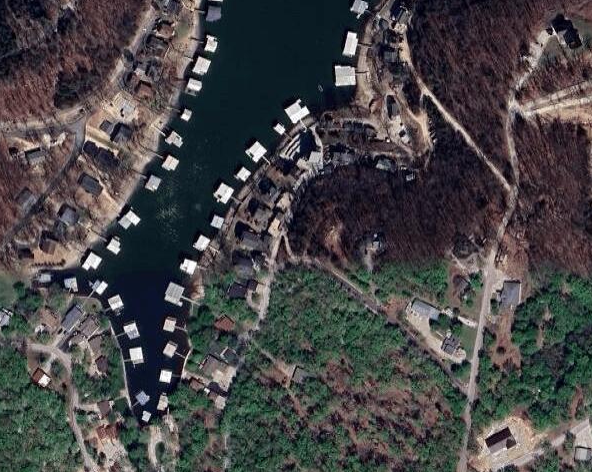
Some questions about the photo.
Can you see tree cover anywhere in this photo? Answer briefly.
Yes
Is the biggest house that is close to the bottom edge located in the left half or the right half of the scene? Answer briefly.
right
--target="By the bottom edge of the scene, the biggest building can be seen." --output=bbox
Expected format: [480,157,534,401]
[486,427,517,453]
